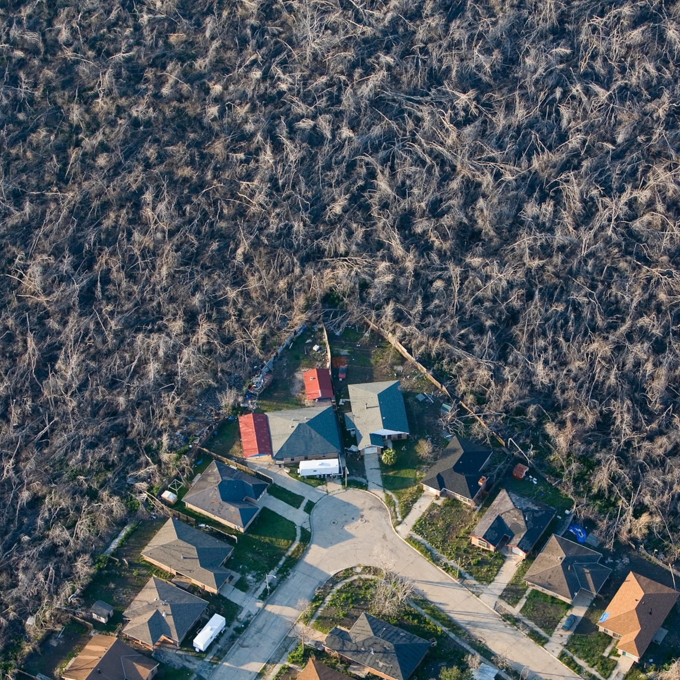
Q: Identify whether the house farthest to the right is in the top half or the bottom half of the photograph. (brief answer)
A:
bottom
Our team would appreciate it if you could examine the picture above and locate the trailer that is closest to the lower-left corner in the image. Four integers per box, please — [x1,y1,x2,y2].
[193,615,225,652]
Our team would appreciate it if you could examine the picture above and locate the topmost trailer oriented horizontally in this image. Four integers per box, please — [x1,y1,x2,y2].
[296,459,339,479]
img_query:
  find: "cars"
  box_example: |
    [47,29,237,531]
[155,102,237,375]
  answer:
[338,364,347,379]
[305,637,325,651]
[561,613,579,632]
